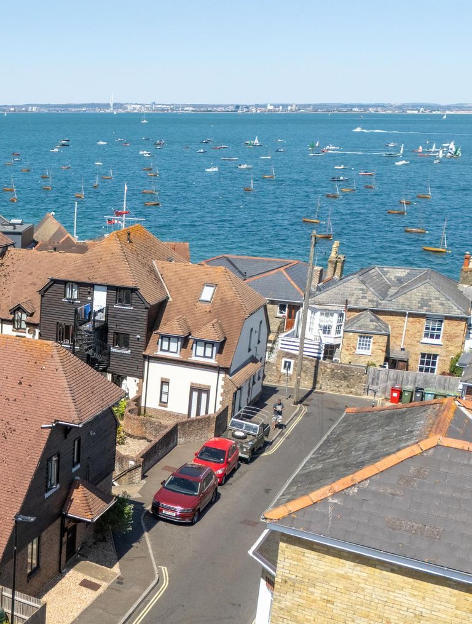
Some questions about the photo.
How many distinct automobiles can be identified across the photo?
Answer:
3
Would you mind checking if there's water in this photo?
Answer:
Yes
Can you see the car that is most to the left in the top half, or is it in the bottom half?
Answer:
bottom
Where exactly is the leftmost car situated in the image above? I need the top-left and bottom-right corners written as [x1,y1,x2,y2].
[157,464,220,522]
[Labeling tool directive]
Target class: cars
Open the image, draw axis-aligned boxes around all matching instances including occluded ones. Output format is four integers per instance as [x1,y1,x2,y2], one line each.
[157,464,220,522]
[215,407,261,452]
[197,442,245,487]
